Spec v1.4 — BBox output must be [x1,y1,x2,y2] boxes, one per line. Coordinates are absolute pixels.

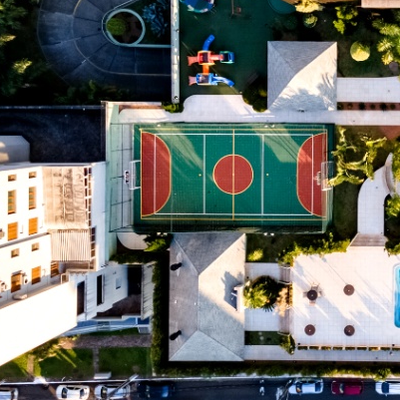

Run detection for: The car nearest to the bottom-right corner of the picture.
[375,382,400,396]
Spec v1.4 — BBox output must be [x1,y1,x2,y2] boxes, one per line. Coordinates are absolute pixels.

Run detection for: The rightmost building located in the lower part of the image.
[166,233,256,361]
